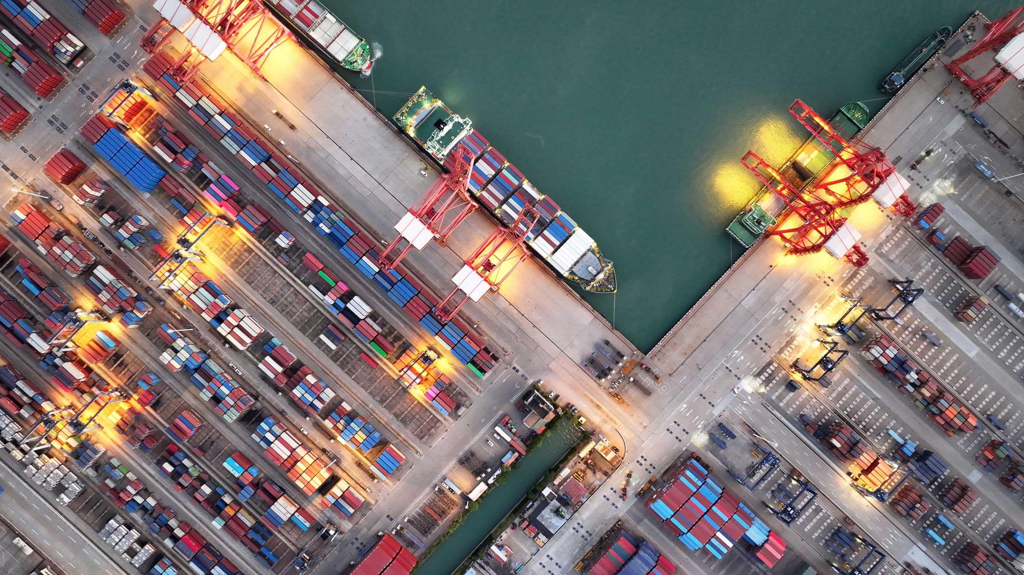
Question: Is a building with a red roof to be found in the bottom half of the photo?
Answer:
Yes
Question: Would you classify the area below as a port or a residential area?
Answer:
port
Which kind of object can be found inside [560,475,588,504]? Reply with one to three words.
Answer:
building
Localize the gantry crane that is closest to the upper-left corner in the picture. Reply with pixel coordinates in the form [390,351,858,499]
[99,77,155,128]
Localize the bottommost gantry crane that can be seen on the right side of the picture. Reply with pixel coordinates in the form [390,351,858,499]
[833,536,887,575]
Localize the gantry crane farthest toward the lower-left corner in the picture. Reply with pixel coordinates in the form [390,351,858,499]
[24,403,76,451]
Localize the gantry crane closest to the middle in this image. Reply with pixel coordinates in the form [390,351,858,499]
[431,197,539,323]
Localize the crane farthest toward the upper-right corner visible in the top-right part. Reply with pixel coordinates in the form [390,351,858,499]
[950,11,1024,108]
